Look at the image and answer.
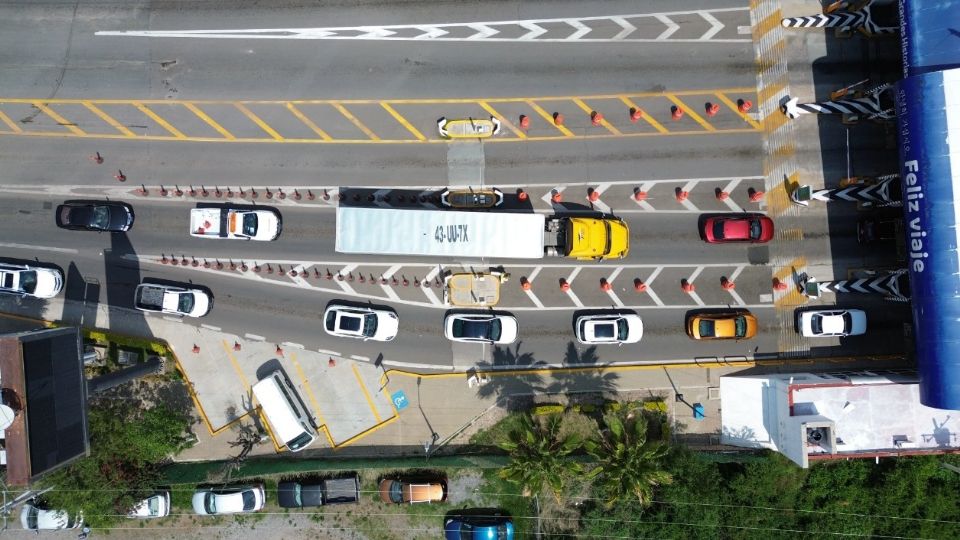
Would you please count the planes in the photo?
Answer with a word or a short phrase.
0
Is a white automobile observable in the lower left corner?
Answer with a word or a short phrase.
Yes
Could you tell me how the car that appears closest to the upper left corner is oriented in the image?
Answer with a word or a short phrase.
horizontally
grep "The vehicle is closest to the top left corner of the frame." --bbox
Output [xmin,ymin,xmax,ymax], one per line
[57,200,140,236]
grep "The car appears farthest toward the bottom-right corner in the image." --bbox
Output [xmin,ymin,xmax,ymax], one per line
[795,307,863,340]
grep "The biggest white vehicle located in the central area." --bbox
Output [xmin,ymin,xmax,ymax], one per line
[337,207,628,265]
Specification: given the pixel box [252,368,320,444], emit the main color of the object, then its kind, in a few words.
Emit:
white vehicle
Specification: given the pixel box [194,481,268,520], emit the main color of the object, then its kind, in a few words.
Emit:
white car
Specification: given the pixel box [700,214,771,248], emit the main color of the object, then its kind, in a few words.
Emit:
red car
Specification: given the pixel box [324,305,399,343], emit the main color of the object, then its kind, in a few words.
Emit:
white car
